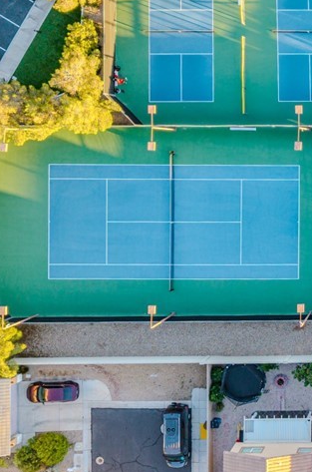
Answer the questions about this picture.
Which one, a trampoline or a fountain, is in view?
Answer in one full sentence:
Visible in the photo is a trampoline.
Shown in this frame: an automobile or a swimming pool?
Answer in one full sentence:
This aerial view contains an automobile.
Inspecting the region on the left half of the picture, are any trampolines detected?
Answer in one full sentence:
No, no trampoline is visible on the left half of the picture.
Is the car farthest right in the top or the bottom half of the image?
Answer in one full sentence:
The car farthest right sits in the bottom half of the picture.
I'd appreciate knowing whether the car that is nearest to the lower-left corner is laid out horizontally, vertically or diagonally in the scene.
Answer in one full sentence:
From this overhead view, the car that is nearest to the lower-left corner appears to run horizontally.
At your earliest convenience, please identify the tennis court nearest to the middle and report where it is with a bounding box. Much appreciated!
[0,127,312,315]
